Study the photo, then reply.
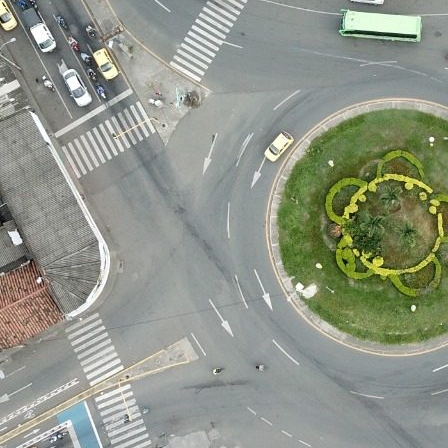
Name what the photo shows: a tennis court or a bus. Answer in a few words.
bus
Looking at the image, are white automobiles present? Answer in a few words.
Yes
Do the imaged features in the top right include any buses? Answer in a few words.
Yes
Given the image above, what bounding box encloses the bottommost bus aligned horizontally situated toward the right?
[336,7,421,40]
